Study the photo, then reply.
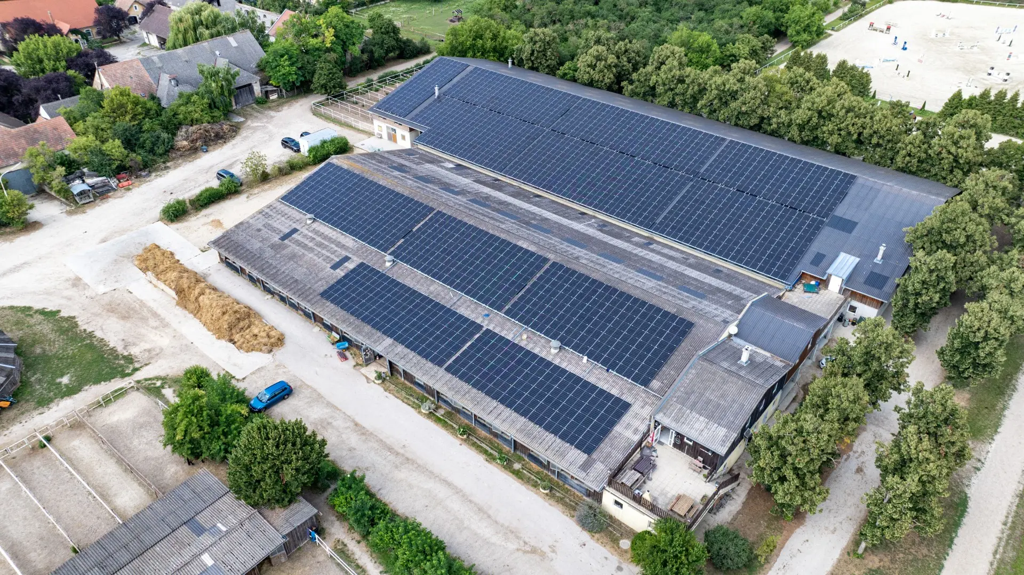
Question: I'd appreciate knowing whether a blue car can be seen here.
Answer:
Yes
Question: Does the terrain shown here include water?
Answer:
No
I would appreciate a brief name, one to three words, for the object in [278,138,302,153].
car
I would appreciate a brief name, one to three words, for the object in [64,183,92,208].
building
